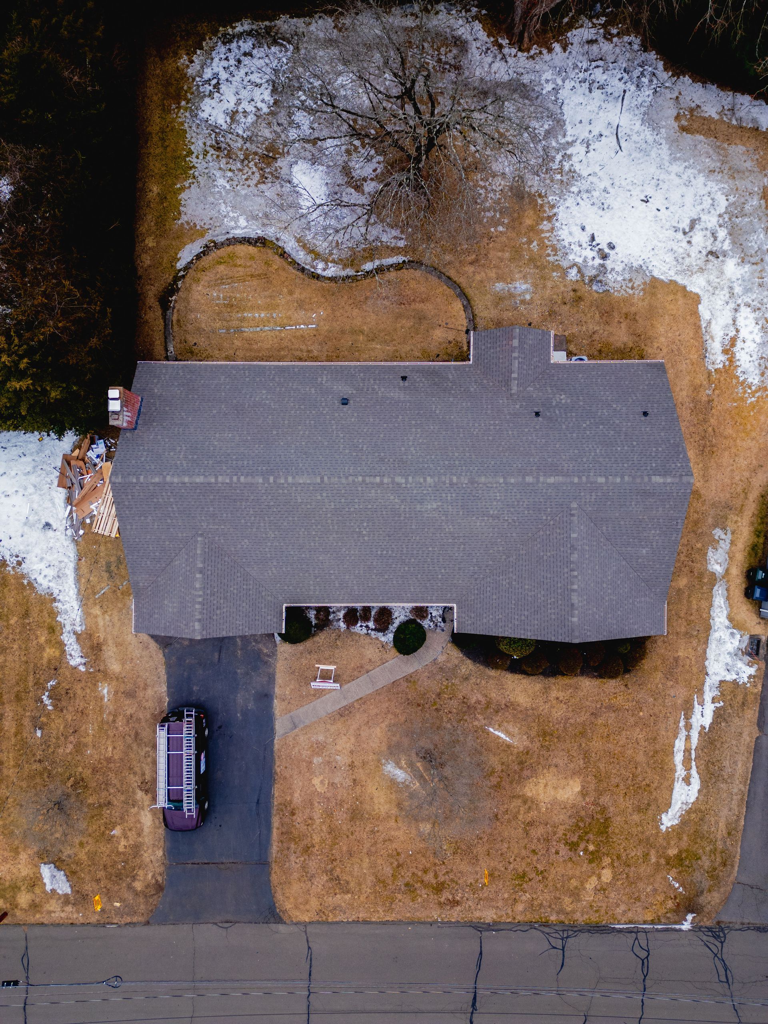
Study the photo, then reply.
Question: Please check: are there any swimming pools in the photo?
No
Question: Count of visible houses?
1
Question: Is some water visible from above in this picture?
No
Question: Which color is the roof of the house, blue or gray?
gray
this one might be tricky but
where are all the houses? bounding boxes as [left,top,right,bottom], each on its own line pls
[107,325,695,643]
